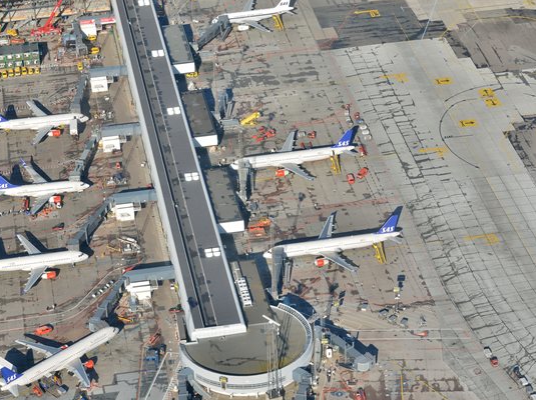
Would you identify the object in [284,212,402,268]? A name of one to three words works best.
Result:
airplane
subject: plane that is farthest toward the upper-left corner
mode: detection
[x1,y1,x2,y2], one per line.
[0,101,91,145]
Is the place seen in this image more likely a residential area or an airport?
airport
